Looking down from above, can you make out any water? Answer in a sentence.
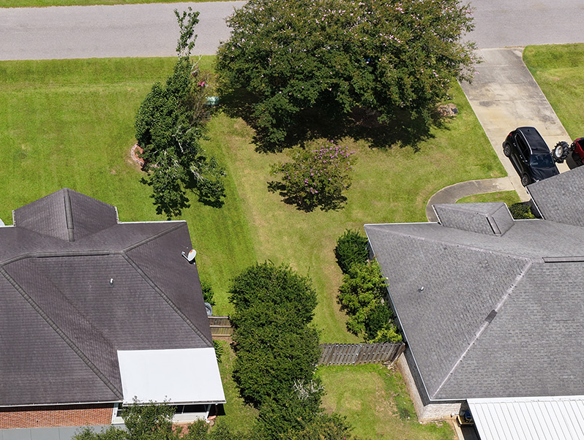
No, there's no water in this view.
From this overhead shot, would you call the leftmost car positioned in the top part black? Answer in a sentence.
Yes, black is the color of the leftmost car positioned in the top part.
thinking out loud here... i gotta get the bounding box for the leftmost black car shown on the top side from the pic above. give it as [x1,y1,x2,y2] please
[506,127,567,187]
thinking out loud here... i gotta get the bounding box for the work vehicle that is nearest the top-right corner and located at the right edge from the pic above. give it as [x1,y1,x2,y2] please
[555,122,584,159]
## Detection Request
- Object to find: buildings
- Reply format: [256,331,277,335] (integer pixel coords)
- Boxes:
[0,187,224,434]
[365,163,584,424]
